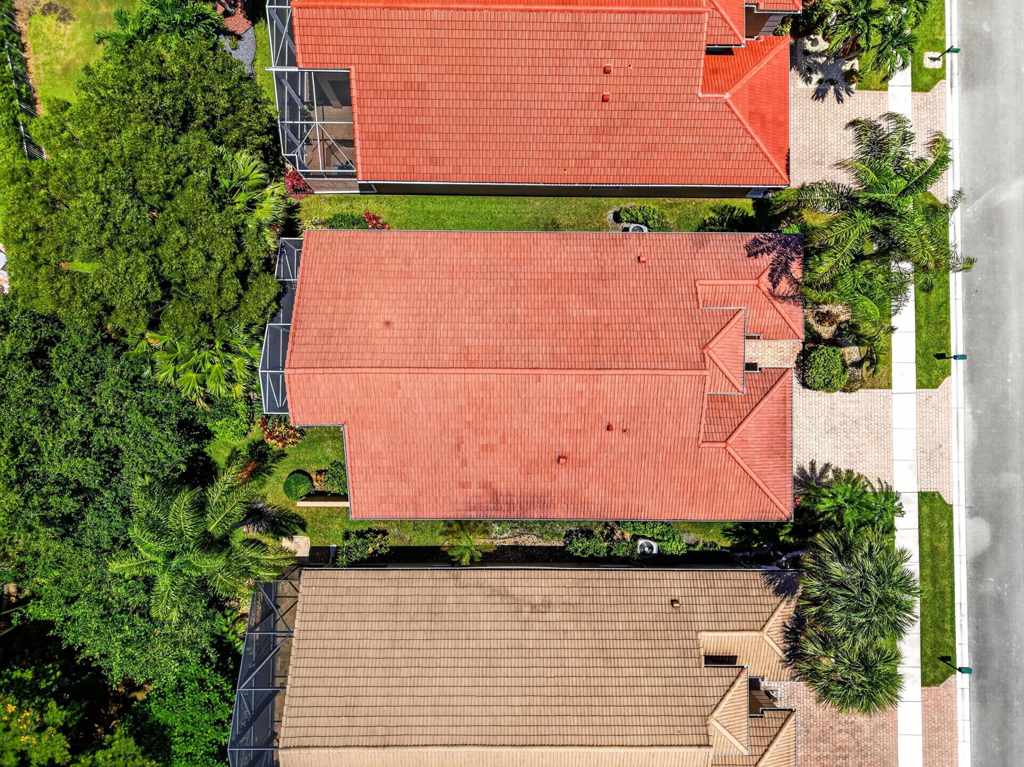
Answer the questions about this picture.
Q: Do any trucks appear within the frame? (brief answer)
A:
No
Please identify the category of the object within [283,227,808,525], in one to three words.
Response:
house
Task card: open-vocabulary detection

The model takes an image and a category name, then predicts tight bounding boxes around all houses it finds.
[283,227,808,525]
[275,538,808,767]
[291,0,810,201]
